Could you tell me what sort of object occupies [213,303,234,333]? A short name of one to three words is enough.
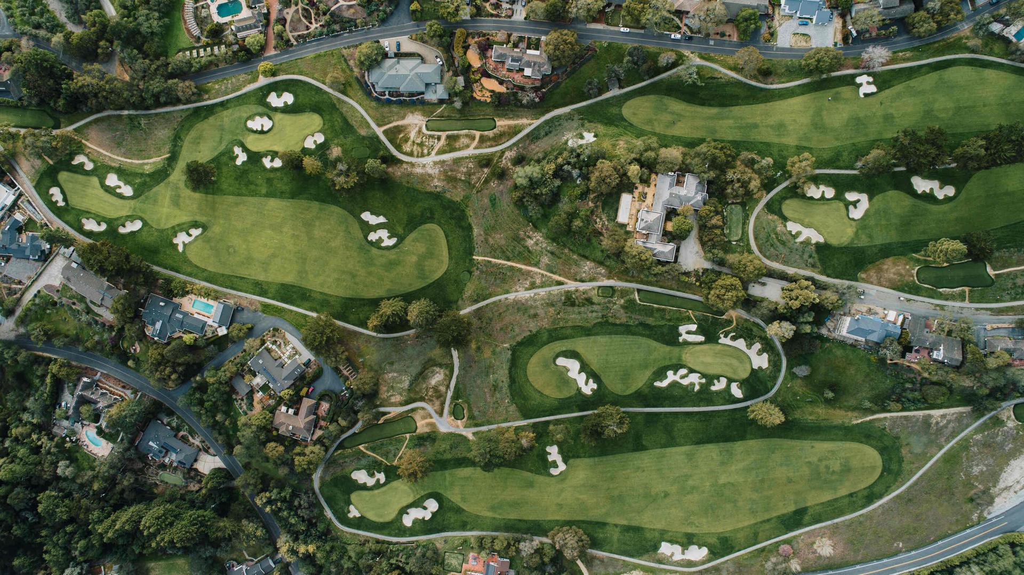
building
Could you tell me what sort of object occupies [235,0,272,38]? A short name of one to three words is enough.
house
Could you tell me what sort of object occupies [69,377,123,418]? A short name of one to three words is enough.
house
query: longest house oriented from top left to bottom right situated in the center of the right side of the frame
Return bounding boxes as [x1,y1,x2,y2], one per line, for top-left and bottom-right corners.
[905,316,963,362]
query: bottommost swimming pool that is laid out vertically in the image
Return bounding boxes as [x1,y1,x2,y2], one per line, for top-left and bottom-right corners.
[617,193,633,223]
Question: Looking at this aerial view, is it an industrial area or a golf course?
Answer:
golf course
